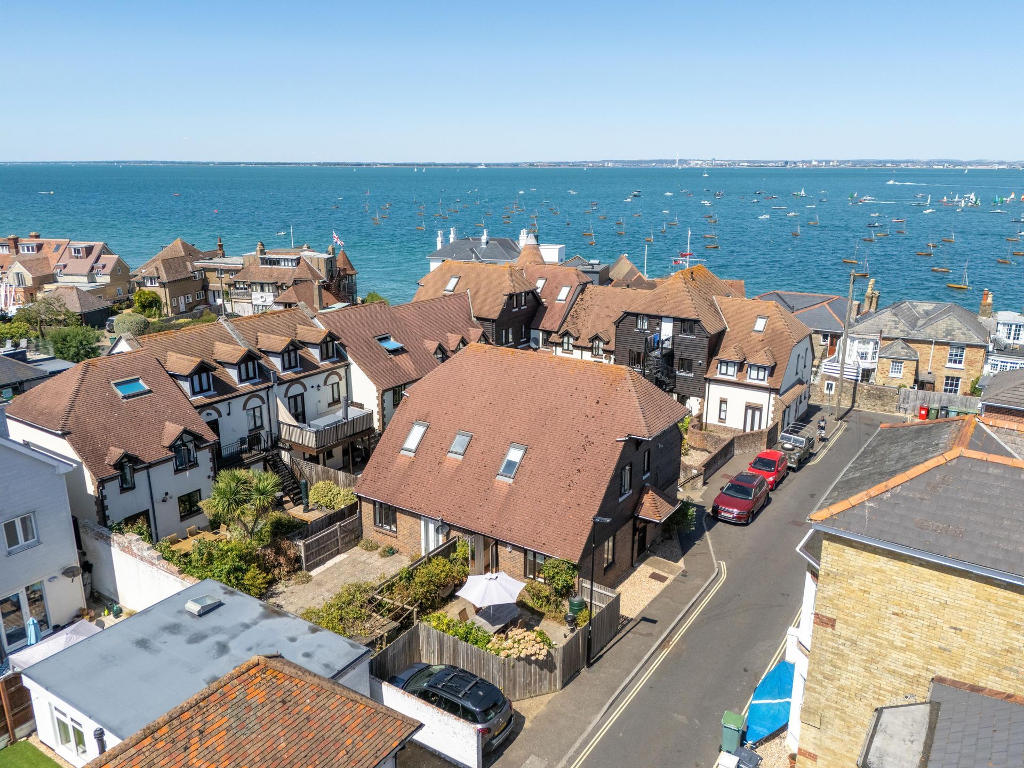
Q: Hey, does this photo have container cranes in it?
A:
No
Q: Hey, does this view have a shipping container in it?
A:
No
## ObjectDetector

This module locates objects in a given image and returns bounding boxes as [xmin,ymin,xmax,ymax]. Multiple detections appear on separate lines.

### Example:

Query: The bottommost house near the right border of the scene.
[788,413,1024,768]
